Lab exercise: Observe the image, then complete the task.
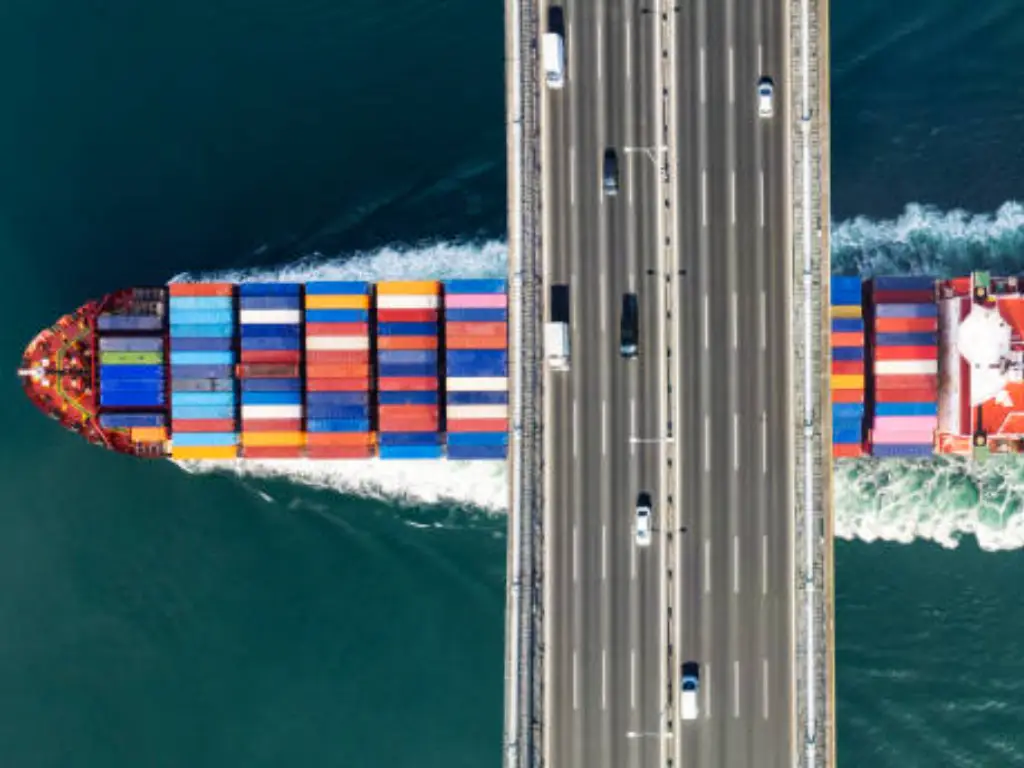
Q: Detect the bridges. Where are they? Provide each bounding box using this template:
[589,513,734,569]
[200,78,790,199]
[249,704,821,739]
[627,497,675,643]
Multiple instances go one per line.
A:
[503,0,832,768]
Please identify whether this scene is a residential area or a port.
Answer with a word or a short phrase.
port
